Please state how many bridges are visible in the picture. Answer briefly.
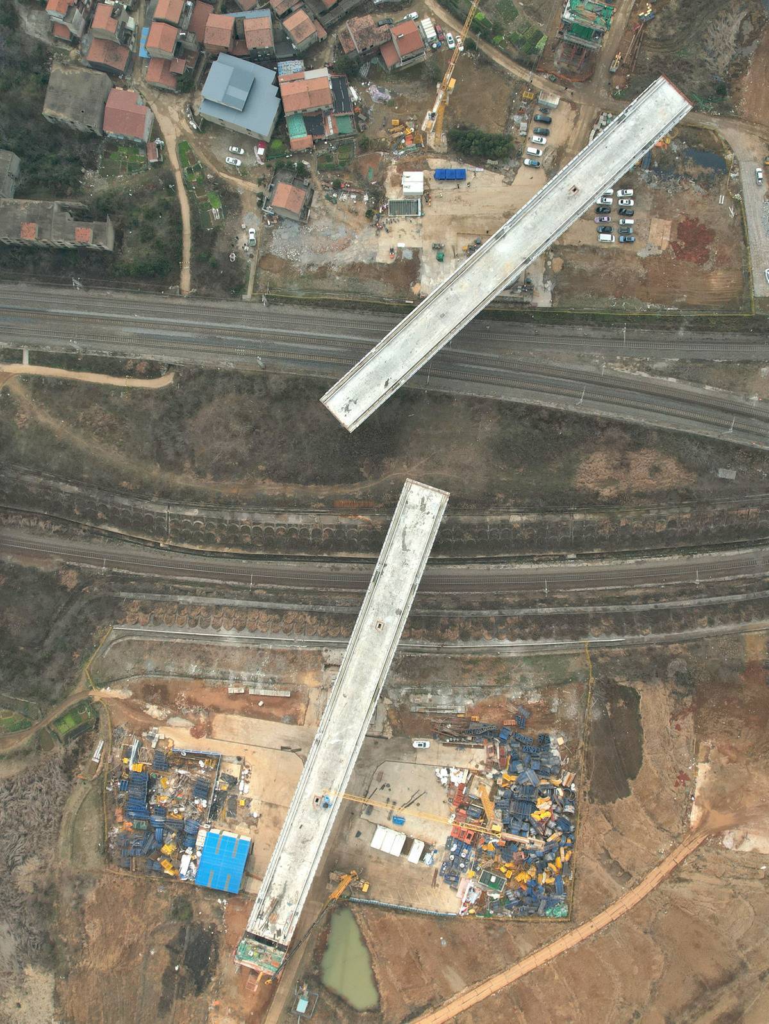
2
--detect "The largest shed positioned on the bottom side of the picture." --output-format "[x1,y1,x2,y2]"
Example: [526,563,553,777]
[195,823,253,893]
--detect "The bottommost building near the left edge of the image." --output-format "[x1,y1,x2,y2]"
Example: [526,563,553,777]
[0,198,114,254]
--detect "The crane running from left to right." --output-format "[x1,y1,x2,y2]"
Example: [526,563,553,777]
[324,774,543,849]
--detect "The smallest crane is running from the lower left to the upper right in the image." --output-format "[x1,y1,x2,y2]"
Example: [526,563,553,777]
[267,866,370,985]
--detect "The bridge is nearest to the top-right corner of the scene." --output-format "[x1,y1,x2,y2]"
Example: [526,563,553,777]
[321,75,693,431]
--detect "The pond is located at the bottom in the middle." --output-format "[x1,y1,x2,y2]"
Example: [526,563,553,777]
[319,904,381,1012]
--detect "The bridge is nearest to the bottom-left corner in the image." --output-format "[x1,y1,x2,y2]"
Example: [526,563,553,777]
[247,478,449,946]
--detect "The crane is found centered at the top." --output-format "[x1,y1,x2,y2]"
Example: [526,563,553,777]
[424,0,481,155]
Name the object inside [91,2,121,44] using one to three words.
house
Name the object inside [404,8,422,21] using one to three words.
vehicle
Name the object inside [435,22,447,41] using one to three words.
vehicle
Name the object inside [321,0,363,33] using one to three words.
shed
